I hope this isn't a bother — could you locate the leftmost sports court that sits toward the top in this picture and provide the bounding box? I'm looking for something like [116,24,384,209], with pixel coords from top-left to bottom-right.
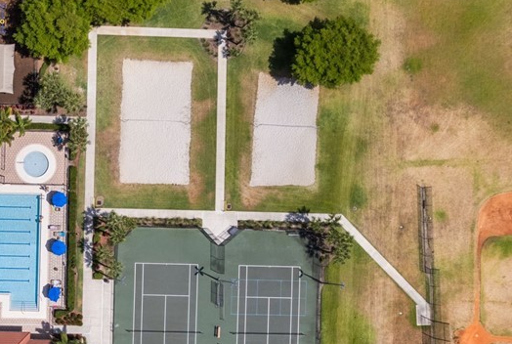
[119,60,195,184]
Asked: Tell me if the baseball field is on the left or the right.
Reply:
right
